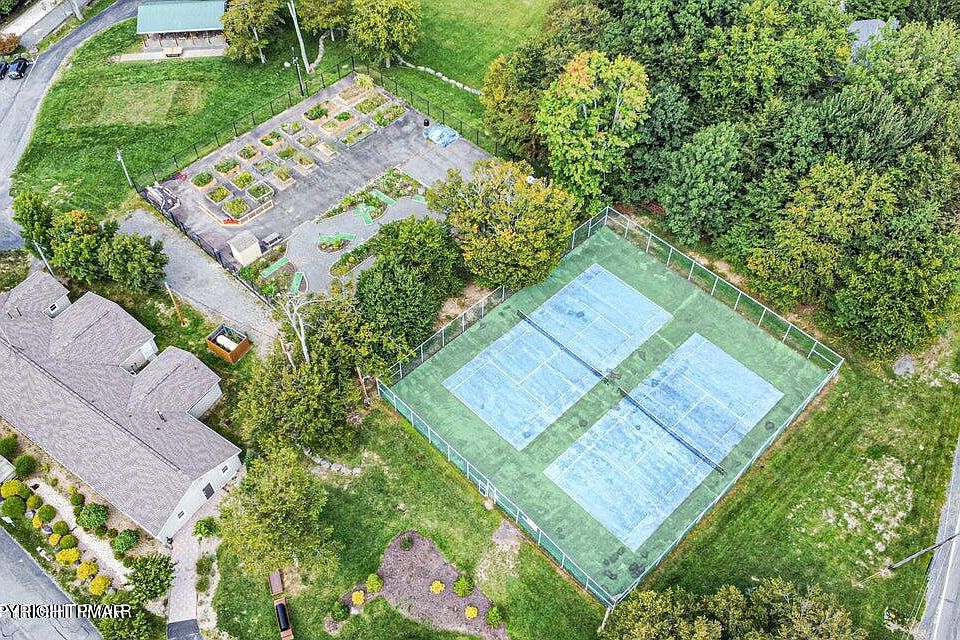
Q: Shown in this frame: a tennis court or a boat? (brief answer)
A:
tennis court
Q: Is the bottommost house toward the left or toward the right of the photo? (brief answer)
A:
left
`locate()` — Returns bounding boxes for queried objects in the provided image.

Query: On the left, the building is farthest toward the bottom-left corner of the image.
[0,271,245,543]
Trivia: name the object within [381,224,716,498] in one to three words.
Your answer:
tennis court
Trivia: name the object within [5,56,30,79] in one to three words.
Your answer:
car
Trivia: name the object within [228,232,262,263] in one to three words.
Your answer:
shed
